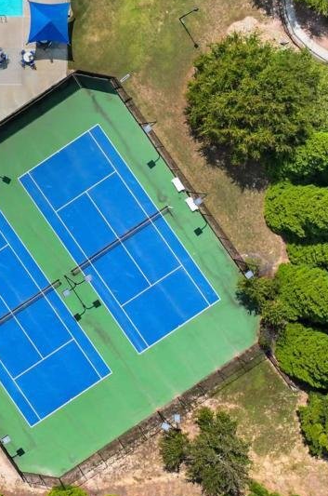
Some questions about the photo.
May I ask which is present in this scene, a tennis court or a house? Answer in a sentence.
I can see a tennis court in this picture.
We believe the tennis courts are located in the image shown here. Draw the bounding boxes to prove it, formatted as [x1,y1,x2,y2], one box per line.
[16,124,219,353]
[0,211,111,427]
